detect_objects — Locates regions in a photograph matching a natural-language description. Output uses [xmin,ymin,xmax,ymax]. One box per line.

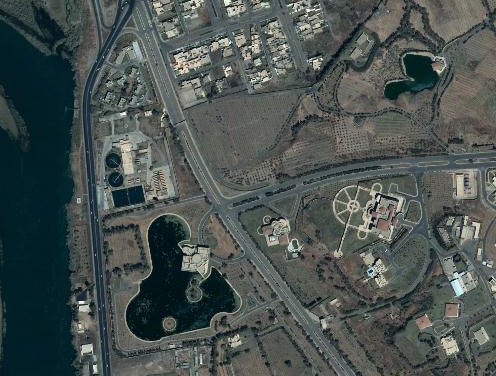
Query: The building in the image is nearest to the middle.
[263,217,288,244]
